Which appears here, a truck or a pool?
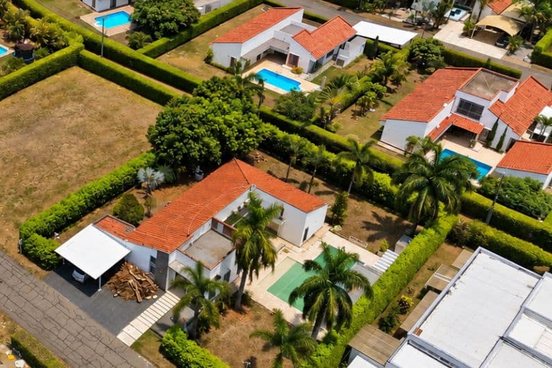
pool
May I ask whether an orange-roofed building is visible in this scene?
Yes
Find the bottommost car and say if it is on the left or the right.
left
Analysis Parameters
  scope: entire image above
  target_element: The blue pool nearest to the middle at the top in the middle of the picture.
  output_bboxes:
[252,67,301,93]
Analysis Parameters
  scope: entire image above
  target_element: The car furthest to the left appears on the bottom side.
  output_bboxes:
[62,263,92,287]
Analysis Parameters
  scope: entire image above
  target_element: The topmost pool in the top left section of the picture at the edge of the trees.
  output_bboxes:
[92,11,133,29]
